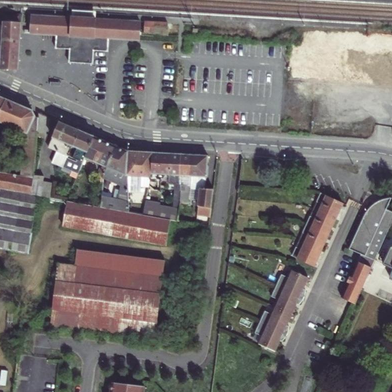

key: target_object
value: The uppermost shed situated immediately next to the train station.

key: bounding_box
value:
[143,20,168,36]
